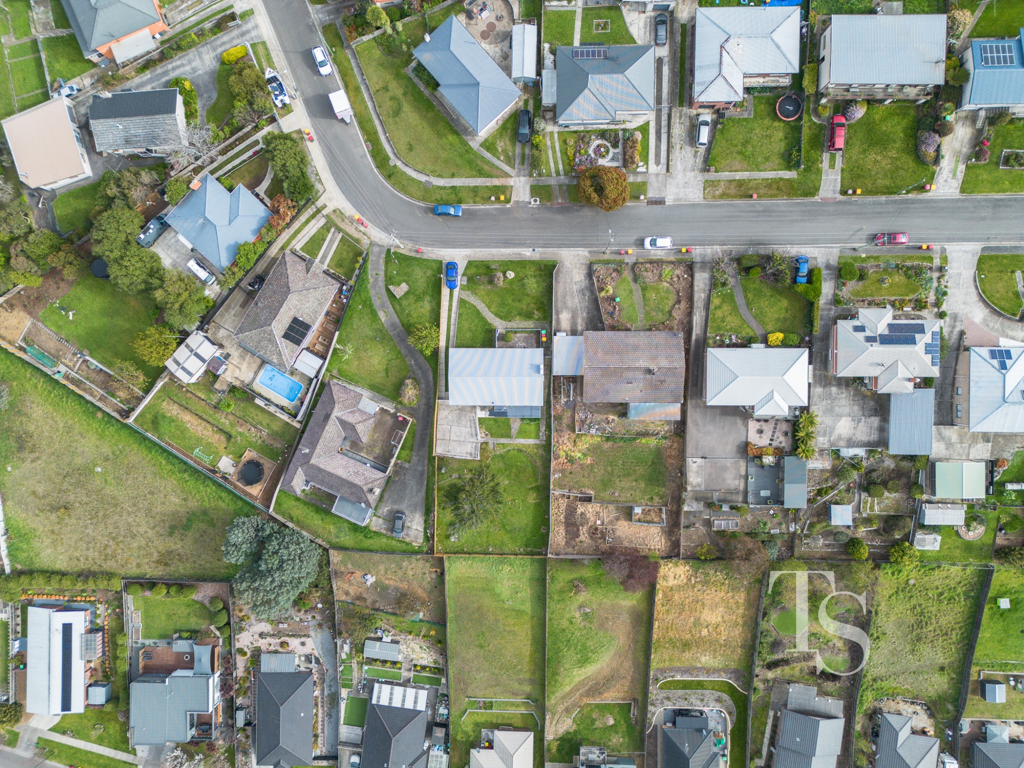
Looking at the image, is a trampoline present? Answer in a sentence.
Yes, there's a trampoline down there.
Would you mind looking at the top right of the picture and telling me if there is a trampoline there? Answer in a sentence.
Yes, a trampoline is visible at the top right of the picture.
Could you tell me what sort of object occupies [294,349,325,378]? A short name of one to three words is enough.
gazebo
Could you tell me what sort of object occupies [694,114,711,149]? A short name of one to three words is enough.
car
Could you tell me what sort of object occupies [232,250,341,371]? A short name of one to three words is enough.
house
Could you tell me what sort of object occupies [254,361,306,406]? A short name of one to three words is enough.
swimming pool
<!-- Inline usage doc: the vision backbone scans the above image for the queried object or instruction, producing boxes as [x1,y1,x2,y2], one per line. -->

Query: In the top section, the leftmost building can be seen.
[1,96,95,191]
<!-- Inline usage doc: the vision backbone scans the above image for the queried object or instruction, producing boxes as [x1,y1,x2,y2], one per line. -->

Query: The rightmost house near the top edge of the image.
[952,27,1024,114]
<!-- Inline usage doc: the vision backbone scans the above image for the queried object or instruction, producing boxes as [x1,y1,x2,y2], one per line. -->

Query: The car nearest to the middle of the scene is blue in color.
[445,262,458,290]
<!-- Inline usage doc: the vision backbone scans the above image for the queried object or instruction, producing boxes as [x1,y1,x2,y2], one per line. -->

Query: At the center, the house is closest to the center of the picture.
[448,347,546,418]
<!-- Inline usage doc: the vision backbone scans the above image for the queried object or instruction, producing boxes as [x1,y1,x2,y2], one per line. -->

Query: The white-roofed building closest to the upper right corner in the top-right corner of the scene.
[817,14,947,105]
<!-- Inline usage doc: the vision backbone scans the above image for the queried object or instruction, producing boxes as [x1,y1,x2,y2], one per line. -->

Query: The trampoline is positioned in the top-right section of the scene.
[775,94,808,121]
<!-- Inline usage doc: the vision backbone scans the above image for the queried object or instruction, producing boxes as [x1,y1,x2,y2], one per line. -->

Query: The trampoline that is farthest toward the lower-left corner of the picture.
[236,461,263,486]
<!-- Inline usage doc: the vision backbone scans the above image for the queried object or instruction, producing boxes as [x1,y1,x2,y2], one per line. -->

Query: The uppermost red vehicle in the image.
[827,115,845,154]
